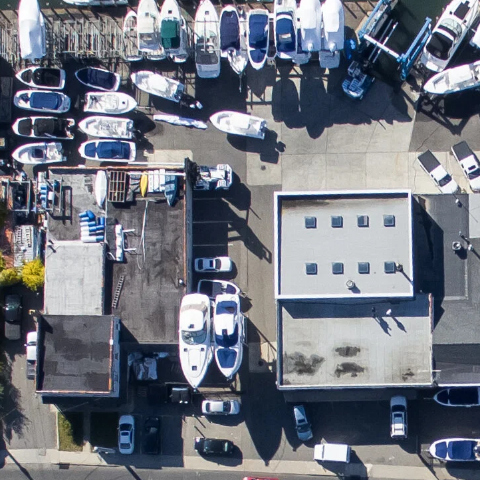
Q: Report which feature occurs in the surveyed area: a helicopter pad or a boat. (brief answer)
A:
boat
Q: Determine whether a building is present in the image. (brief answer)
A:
Yes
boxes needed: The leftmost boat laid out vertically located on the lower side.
[182,296,215,390]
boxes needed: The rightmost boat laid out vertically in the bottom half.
[215,295,243,382]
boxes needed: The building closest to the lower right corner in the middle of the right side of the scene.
[273,190,480,391]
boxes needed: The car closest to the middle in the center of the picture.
[194,255,233,274]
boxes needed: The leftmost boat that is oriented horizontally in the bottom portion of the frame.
[198,279,239,299]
